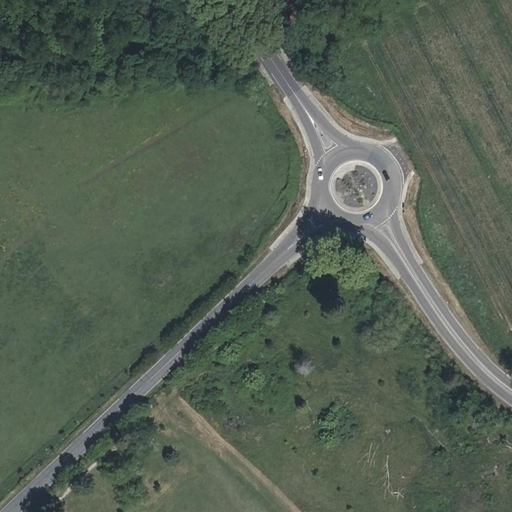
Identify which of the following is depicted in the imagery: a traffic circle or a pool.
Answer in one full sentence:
There is a traffic circle in the scene.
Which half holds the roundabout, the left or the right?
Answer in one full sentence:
The roundabout appears in the right half of the scene.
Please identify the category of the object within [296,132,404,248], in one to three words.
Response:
roundabout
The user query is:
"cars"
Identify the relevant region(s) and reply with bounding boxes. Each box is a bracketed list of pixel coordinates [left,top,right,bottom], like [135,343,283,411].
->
[362,212,373,220]
[317,166,324,180]
[382,169,390,182]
